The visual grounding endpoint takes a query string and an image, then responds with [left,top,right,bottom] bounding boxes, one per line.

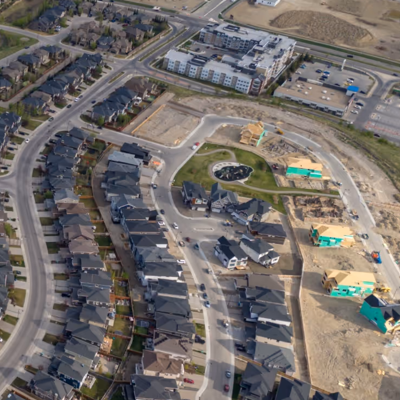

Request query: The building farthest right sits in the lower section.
[357,302,400,332]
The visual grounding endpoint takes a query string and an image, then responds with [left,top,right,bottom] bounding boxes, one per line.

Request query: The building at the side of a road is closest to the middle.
[179,185,210,214]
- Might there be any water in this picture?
No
